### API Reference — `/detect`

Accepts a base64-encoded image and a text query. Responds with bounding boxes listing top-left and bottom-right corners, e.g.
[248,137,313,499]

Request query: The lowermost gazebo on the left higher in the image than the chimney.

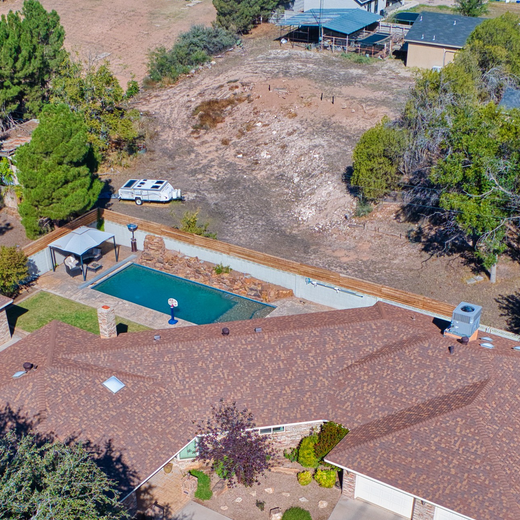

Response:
[49,226,118,281]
